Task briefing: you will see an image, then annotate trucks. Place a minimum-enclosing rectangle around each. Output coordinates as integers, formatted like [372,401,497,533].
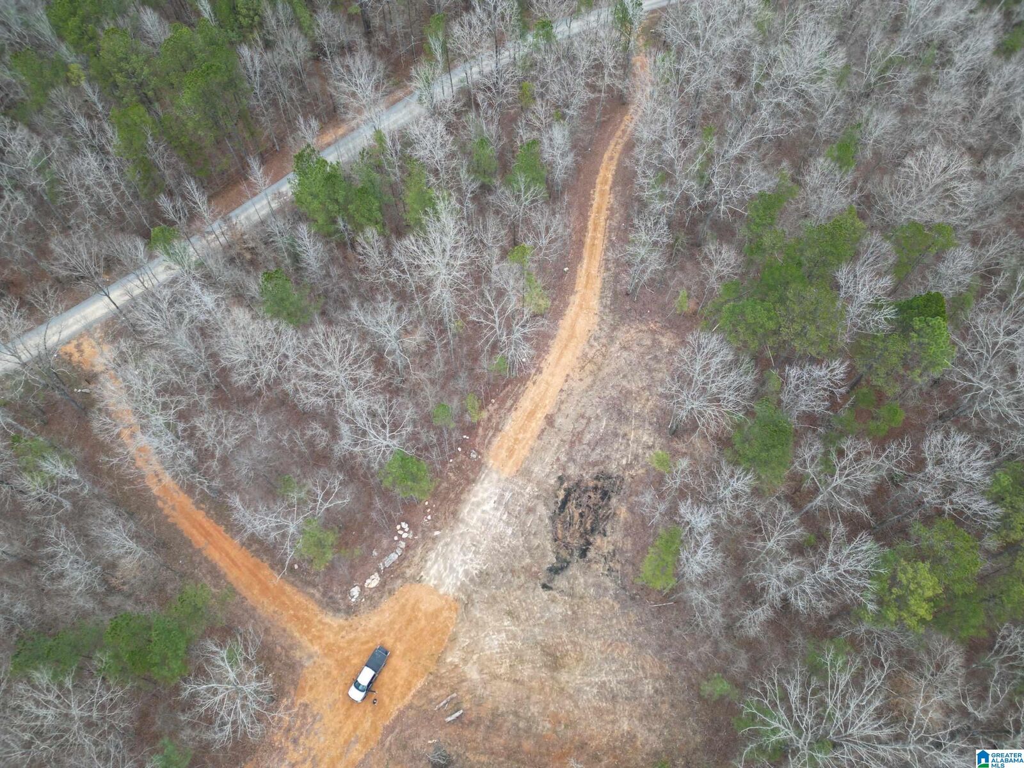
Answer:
[348,644,391,704]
